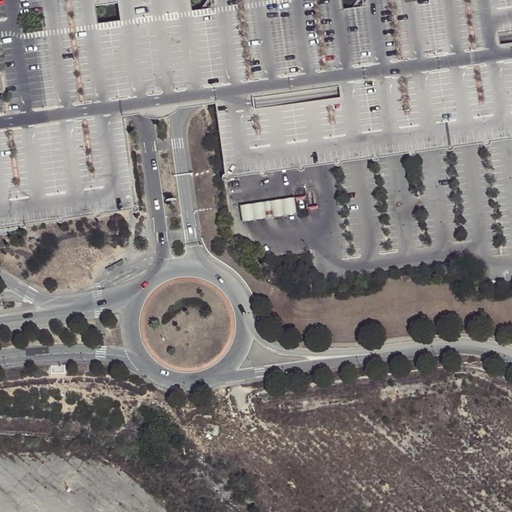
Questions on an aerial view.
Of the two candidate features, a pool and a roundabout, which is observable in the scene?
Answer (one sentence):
This aerial view contains a roundabout.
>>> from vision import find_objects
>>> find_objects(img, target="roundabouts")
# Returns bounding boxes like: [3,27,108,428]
[95,237,258,392]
